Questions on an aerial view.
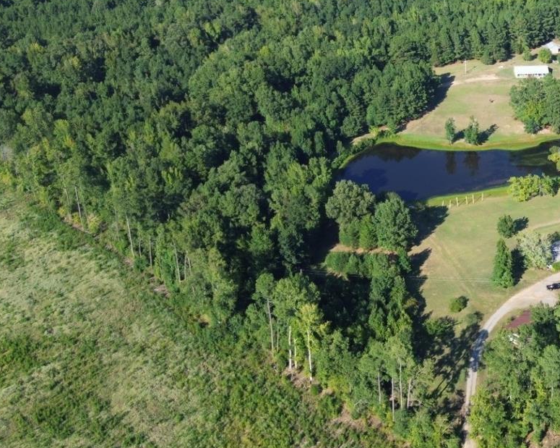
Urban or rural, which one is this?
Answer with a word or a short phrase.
rural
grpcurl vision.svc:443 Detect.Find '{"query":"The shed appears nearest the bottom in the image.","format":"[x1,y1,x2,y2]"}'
[507,305,541,332]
